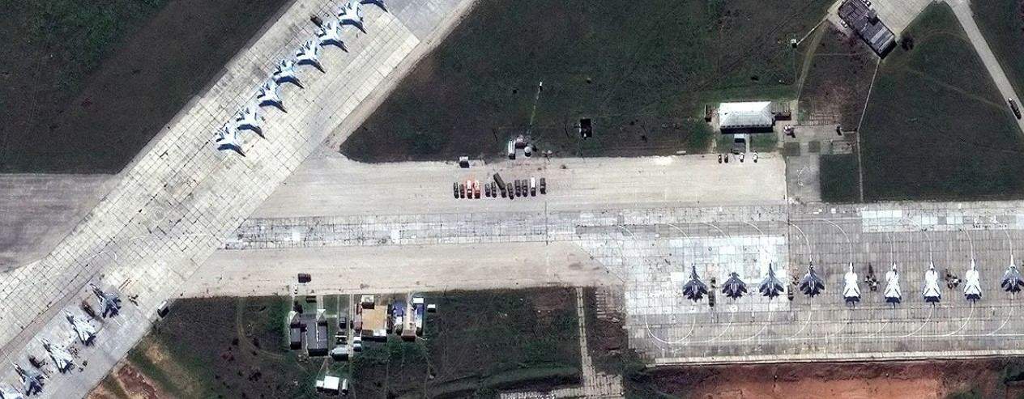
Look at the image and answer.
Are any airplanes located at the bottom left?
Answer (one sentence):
Yes, I can see an airplane at the bottom left.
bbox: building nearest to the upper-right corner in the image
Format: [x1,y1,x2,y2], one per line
[836,0,898,52]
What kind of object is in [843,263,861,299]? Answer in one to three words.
airplane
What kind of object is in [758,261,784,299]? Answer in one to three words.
airplane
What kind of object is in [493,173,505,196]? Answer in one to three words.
vehicle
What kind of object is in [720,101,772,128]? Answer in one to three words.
building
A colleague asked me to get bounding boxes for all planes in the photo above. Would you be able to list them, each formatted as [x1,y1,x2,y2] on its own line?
[681,264,707,300]
[270,50,301,81]
[331,0,364,25]
[843,263,861,299]
[290,34,323,65]
[923,263,941,300]
[885,265,903,300]
[314,14,345,44]
[90,284,120,318]
[799,258,825,294]
[38,337,68,371]
[211,118,243,149]
[964,260,983,297]
[230,100,263,130]
[721,261,747,298]
[12,363,42,396]
[65,312,95,346]
[1000,256,1024,293]
[253,74,285,106]
[758,261,784,299]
